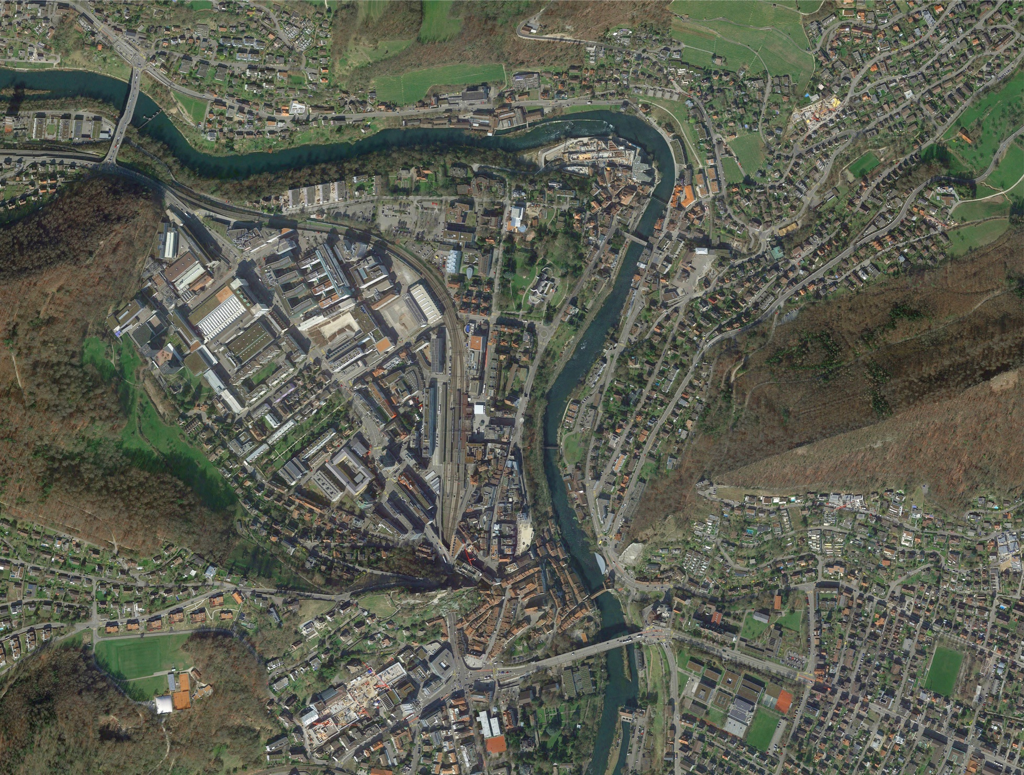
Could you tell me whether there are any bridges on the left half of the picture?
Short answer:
Yes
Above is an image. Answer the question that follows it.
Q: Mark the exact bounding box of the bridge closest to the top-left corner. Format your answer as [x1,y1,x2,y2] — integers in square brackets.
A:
[107,66,140,163]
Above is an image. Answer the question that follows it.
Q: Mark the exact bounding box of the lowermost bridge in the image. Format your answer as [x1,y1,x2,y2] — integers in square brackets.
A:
[520,629,648,672]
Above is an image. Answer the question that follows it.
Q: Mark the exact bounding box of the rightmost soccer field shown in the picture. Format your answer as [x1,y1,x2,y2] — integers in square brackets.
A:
[925,647,964,696]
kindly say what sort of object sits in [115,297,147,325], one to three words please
building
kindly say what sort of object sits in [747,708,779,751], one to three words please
soccer field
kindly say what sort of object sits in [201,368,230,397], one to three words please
building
